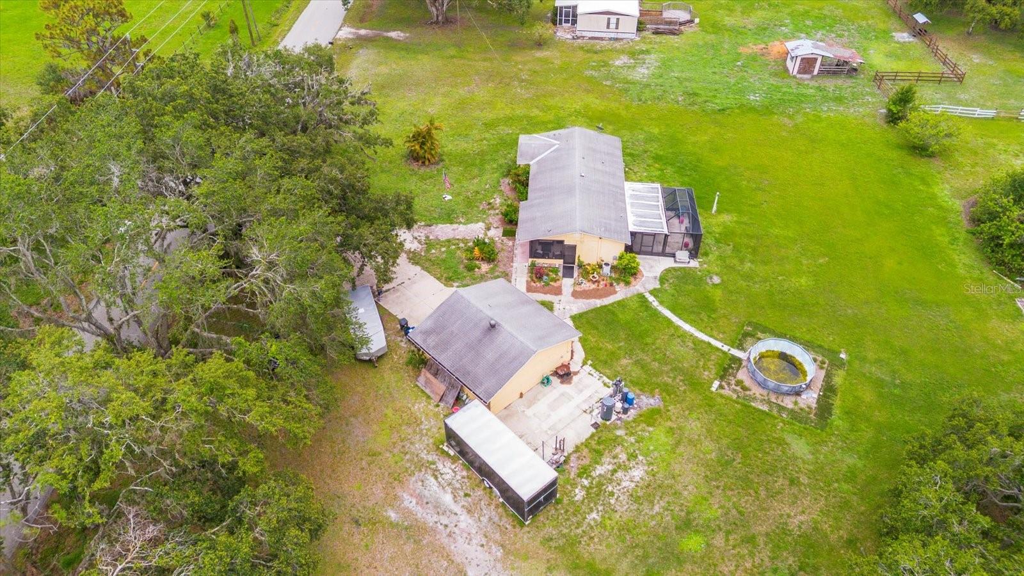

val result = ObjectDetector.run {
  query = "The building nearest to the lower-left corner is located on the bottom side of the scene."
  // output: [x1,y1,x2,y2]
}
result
[407,277,581,415]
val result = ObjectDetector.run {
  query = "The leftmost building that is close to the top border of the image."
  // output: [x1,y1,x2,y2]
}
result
[557,0,641,38]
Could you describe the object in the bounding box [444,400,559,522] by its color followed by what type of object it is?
white trailer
